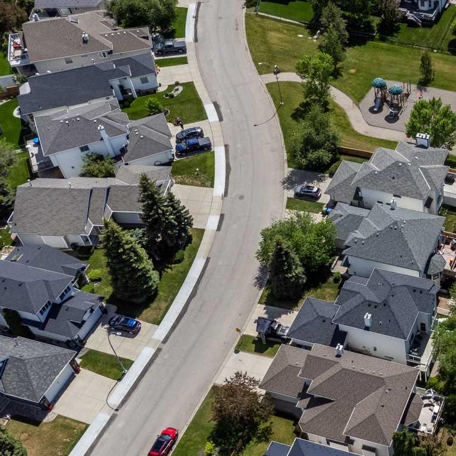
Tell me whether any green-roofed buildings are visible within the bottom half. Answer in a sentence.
No, within the bottom half there is no green-roofed building.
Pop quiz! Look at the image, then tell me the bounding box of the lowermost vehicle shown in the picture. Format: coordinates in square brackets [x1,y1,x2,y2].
[146,424,176,456]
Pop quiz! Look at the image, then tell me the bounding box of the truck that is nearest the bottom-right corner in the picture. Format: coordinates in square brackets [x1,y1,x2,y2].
[252,307,292,339]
